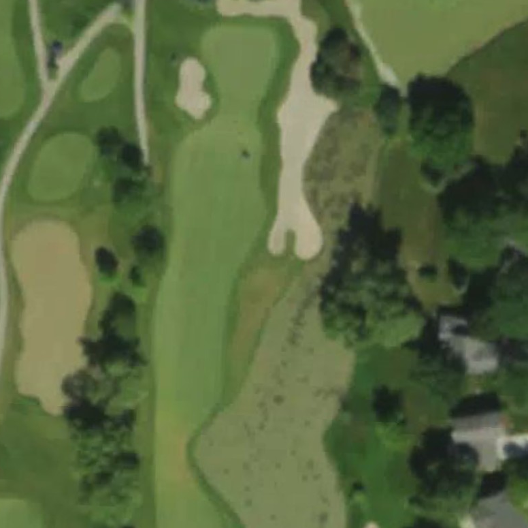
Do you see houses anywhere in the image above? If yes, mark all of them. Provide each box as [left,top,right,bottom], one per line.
[441,311,501,374]
[451,412,506,471]
[462,488,528,528]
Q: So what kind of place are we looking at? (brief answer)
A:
golf course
